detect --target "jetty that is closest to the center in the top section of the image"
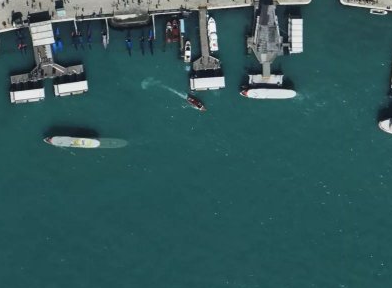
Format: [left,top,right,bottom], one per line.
[190,77,225,91]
